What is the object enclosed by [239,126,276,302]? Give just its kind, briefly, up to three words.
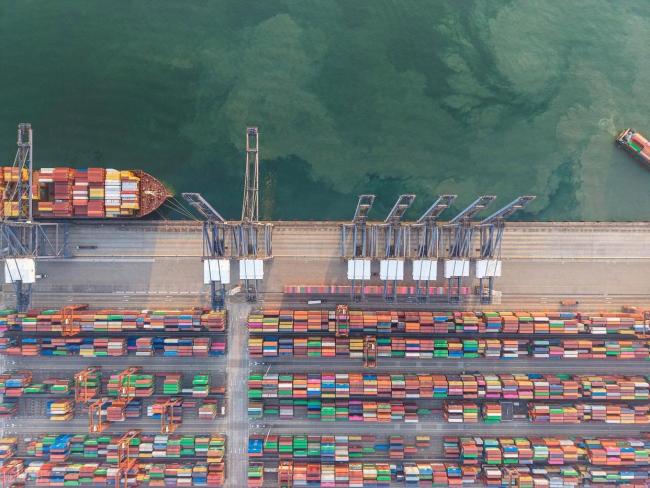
container crane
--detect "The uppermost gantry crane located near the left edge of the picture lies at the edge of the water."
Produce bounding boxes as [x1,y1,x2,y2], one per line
[0,126,72,302]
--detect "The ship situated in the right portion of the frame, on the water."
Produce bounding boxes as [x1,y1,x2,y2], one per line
[615,129,650,169]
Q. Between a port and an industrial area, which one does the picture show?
port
